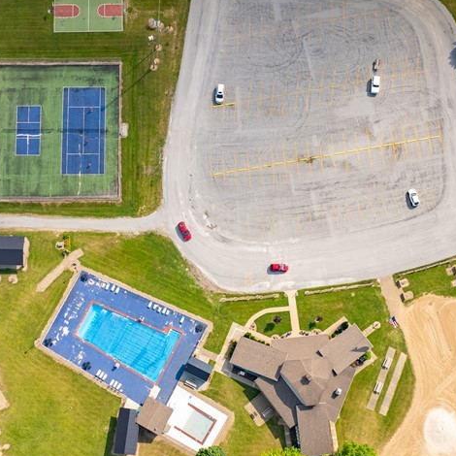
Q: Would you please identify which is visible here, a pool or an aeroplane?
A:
pool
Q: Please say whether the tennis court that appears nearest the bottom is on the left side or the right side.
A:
left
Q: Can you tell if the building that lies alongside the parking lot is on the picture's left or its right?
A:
right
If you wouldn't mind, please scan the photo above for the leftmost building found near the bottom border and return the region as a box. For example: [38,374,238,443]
[113,408,140,456]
